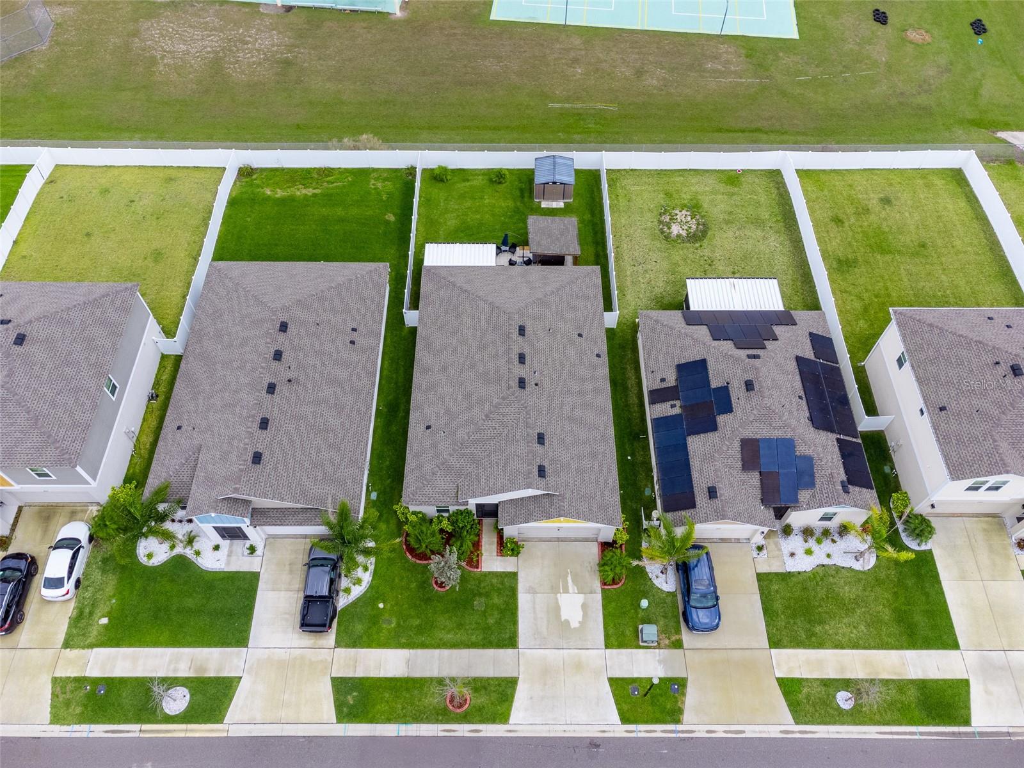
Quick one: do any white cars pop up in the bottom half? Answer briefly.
Yes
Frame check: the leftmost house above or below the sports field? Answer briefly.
below it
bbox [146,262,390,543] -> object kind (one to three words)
house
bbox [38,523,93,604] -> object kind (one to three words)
car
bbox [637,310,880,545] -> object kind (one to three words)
house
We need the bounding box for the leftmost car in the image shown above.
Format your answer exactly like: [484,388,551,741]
[0,549,38,636]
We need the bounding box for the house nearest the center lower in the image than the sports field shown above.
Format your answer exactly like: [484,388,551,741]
[401,265,622,543]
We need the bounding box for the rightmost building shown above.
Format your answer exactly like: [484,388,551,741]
[859,307,1024,518]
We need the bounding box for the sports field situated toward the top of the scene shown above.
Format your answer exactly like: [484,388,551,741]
[0,0,1024,160]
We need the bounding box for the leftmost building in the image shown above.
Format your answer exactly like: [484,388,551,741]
[0,285,162,536]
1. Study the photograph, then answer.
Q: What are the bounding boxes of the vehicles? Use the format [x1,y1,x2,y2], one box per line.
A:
[301,539,345,634]
[675,542,722,632]
[38,523,93,604]
[0,549,38,636]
